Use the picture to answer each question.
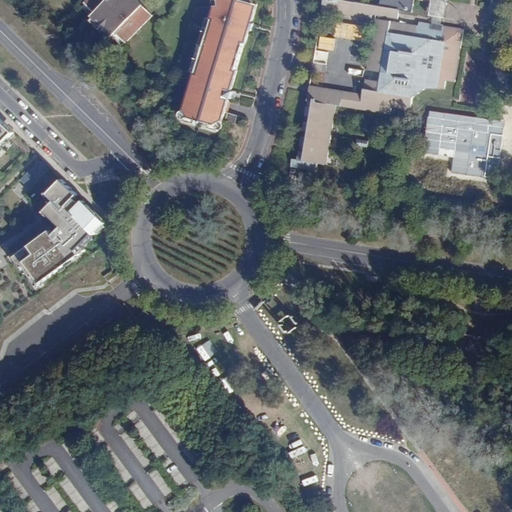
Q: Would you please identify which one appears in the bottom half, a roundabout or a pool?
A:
roundabout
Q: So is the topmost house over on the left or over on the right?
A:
left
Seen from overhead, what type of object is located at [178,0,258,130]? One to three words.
building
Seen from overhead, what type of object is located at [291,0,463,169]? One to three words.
building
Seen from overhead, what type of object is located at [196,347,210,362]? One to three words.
vehicle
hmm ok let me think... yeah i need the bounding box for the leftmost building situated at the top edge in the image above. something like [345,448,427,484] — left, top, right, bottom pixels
[87,0,154,45]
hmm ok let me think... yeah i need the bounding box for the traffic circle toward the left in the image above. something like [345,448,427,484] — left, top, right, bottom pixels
[132,171,262,302]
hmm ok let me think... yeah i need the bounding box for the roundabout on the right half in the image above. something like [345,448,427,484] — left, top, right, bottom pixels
[322,430,454,512]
